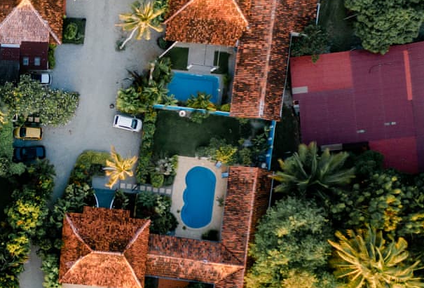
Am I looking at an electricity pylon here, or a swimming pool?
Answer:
swimming pool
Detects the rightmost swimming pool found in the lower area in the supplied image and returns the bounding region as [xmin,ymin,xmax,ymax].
[175,160,222,234]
